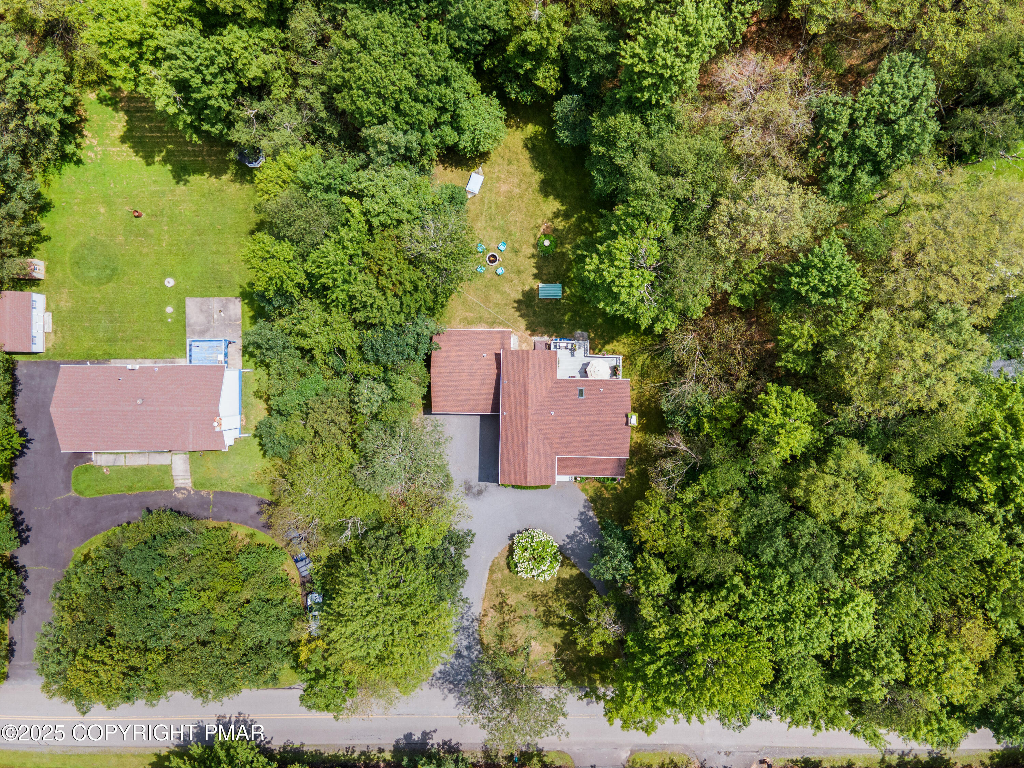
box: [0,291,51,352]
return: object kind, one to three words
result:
shed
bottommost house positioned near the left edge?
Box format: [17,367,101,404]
[49,360,253,461]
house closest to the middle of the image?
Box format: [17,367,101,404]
[431,328,637,486]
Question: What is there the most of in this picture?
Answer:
trees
